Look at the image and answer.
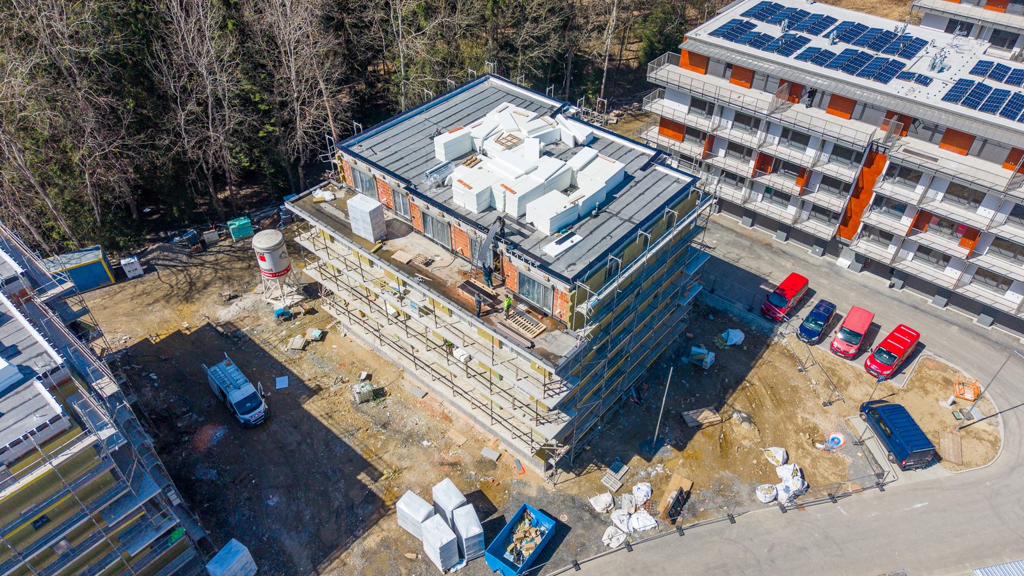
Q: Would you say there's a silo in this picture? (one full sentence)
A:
Yes, the photo shows a silo.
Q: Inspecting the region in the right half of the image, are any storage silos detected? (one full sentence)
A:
No, I see no storage silo in the right half of the image.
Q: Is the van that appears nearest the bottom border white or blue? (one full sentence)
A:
The color of the van that appears nearest the bottom border is blue.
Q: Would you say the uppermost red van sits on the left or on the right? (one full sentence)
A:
The uppermost red van appears in the right half of the scene.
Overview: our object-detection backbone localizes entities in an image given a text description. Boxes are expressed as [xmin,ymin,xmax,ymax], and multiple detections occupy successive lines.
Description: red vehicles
[762,274,812,324]
[865,322,920,382]
[827,306,881,362]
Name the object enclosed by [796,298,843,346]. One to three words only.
car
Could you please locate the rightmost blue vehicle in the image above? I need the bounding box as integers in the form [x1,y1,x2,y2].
[851,398,938,474]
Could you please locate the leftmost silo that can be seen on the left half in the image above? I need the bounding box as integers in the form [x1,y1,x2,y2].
[256,232,320,326]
